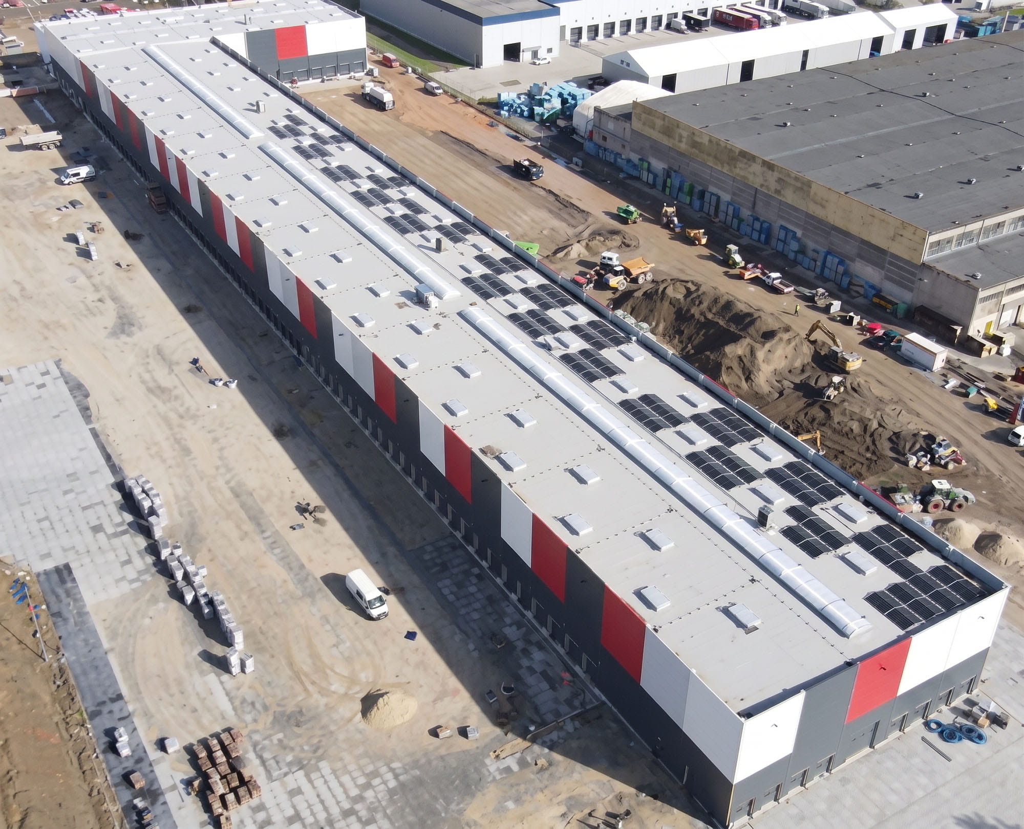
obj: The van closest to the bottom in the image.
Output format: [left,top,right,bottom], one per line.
[345,564,390,619]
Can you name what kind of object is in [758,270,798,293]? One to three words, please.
truck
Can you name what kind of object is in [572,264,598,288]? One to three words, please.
work vehicle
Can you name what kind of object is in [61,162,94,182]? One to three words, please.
vehicle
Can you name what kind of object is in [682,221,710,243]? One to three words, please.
truck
